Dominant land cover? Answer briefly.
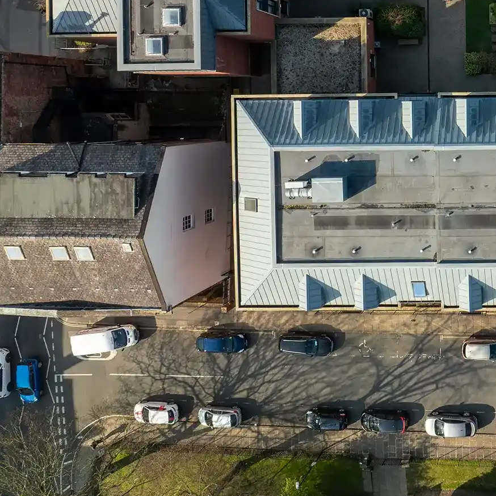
buildings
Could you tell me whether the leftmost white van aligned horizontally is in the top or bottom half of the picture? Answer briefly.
bottom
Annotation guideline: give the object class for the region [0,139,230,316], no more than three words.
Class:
building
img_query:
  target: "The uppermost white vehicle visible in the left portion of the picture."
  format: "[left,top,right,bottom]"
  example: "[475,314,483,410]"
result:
[66,325,139,358]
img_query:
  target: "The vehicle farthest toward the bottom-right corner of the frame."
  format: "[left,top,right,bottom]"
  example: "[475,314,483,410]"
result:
[426,411,479,440]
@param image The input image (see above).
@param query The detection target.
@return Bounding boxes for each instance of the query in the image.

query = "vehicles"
[463,336,496,360]
[362,408,410,435]
[15,357,47,402]
[66,325,139,358]
[197,331,250,357]
[0,346,16,401]
[135,399,181,427]
[279,332,334,360]
[426,411,479,440]
[199,403,244,431]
